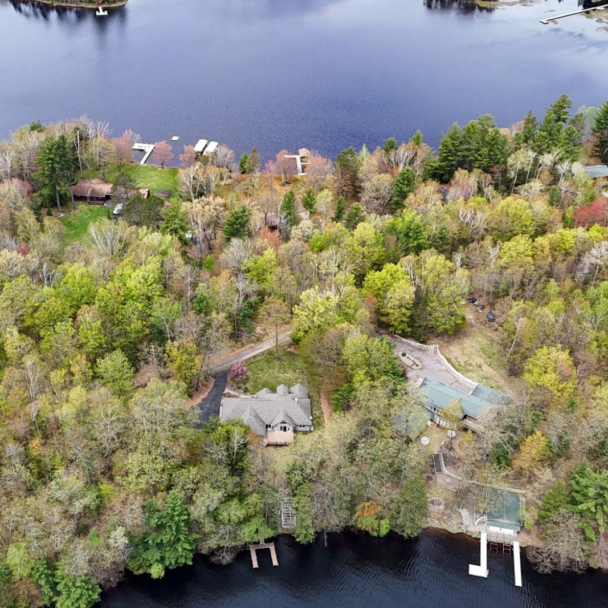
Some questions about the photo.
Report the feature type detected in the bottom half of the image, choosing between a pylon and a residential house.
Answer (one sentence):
You can see a residential house in the bottom half of the image.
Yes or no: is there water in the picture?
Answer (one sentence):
Yes, water shows up in the scene.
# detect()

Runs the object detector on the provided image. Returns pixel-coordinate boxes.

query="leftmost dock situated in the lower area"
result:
[249,538,278,569]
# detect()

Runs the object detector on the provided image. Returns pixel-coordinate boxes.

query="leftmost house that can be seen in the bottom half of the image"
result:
[220,381,313,445]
